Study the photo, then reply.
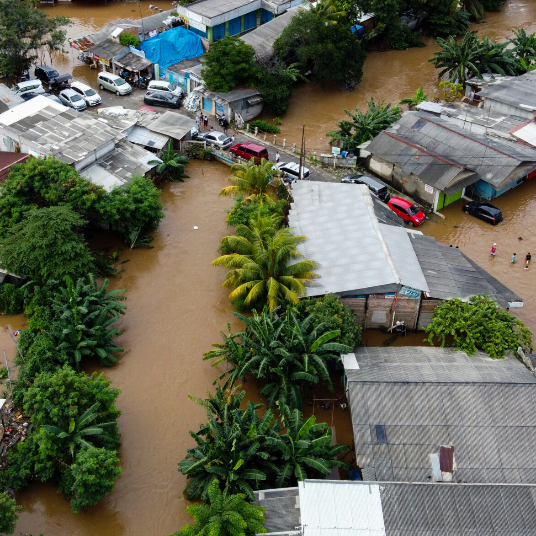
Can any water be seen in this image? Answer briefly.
Yes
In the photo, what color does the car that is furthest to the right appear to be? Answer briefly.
black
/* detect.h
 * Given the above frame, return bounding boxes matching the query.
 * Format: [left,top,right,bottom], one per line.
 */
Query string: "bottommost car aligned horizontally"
[463,199,506,223]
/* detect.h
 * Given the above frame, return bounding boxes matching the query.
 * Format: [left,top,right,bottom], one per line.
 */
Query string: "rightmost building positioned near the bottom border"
[299,347,536,536]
